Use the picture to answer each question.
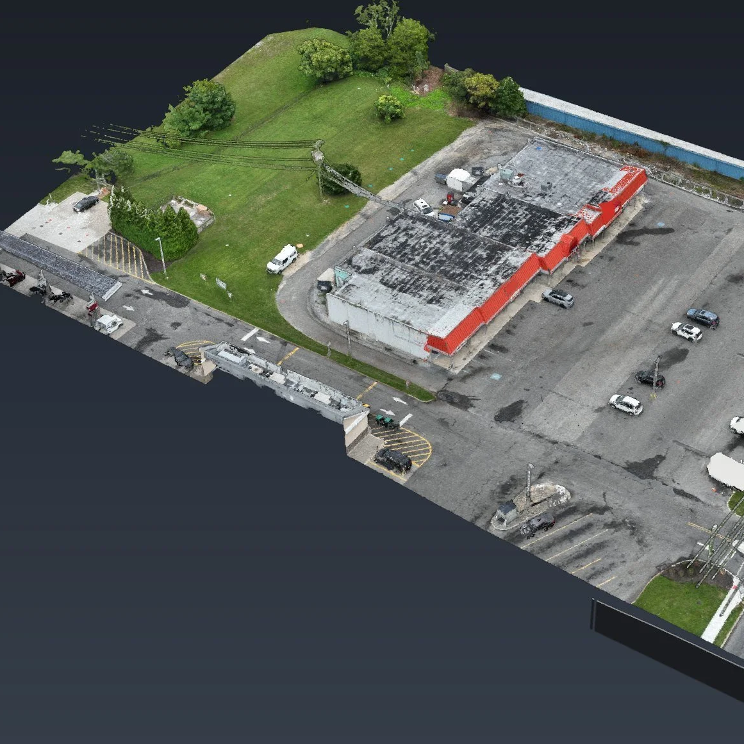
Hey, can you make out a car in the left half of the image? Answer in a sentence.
Yes, a car shows up in the left half of the image.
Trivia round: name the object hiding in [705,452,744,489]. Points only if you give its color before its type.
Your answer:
white vehicle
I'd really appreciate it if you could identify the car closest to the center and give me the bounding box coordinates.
[374,449,413,471]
